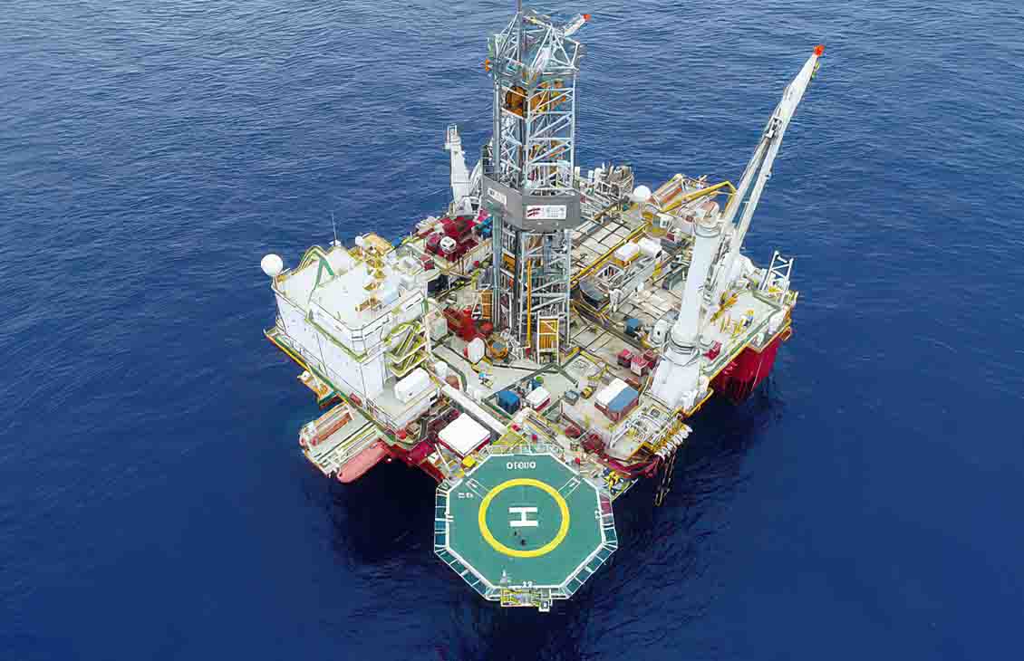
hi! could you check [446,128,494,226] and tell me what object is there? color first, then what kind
white crane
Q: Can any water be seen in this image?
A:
Yes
